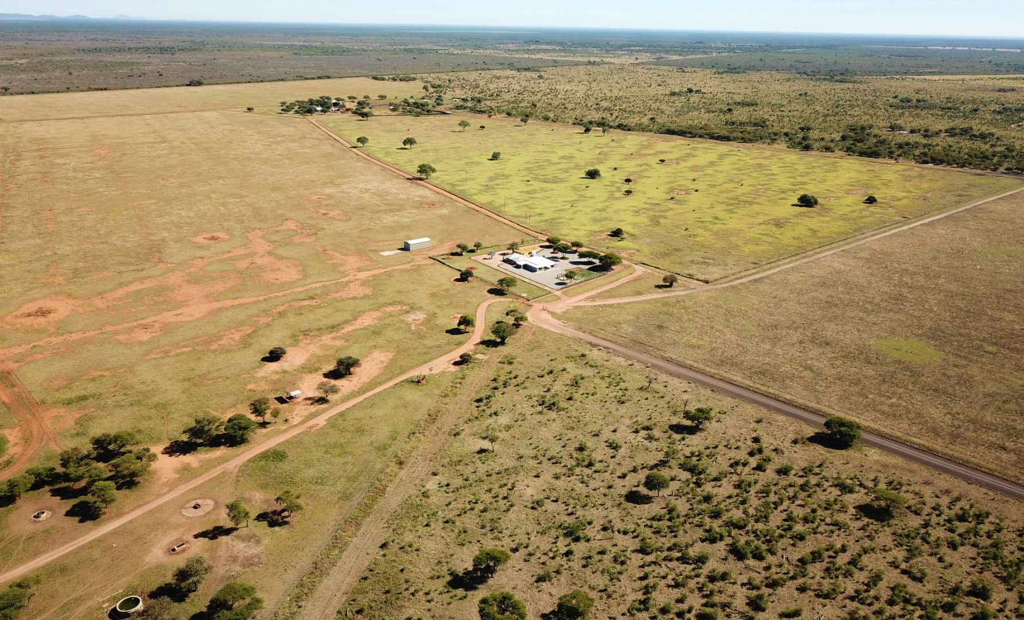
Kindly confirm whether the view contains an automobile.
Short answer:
No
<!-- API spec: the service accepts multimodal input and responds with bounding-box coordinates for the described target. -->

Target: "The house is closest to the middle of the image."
[506,253,555,272]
